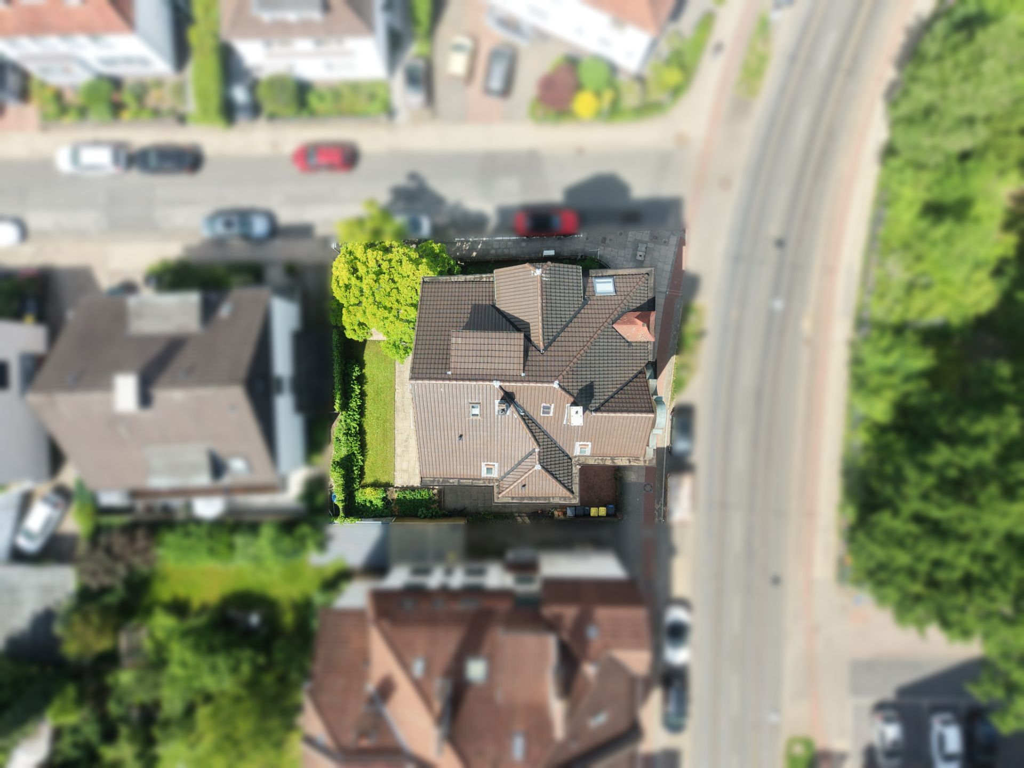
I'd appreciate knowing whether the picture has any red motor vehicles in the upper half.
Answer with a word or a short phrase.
Yes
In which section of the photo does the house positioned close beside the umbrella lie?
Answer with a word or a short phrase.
left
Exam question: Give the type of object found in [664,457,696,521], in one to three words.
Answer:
trailer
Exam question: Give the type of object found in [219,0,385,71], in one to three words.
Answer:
house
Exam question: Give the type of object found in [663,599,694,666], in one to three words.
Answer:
car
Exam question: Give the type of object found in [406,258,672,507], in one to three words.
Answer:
house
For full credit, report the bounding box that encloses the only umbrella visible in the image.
[192,496,226,523]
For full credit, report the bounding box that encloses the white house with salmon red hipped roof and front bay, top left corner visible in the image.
[0,0,171,84]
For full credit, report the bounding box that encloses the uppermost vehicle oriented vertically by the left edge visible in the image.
[0,60,26,117]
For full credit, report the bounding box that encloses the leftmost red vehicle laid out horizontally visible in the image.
[294,142,360,175]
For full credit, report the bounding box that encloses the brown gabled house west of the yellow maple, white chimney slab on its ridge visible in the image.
[32,287,311,506]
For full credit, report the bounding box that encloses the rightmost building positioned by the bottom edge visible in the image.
[299,536,653,768]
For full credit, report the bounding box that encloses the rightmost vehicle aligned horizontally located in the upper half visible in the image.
[514,207,580,238]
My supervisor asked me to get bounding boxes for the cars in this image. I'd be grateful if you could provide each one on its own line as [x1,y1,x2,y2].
[294,142,360,175]
[0,60,26,117]
[60,143,130,175]
[514,207,580,238]
[137,143,205,176]
[0,217,27,248]
[205,209,275,240]
[486,42,516,102]
[926,706,964,768]
[447,34,476,83]
[28,489,70,557]
[379,212,438,241]
[663,599,694,666]
[227,65,258,127]
[869,705,903,768]
[668,402,698,457]
[660,666,691,732]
